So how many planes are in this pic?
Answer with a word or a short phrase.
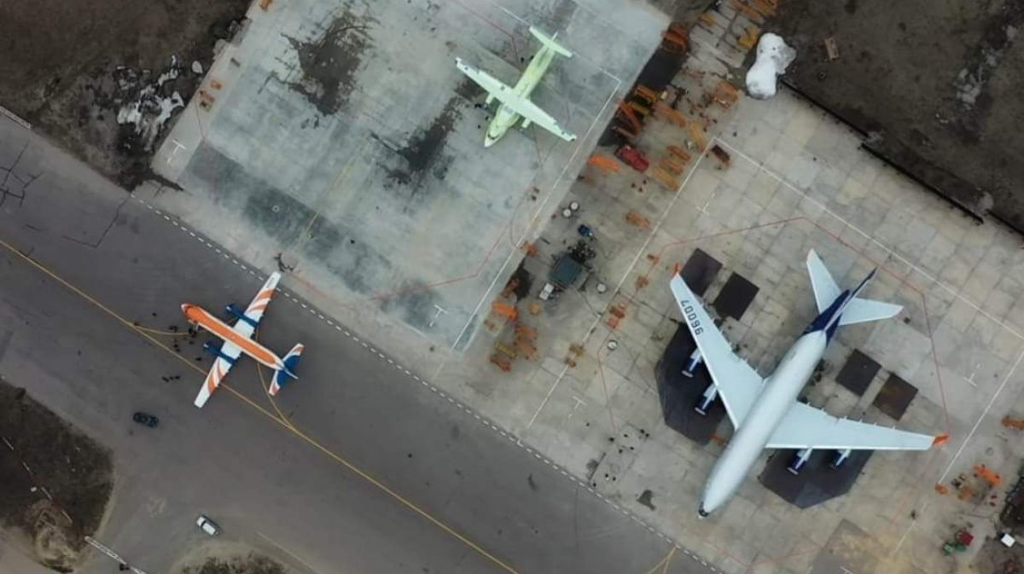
3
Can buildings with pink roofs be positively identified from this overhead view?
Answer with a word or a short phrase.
No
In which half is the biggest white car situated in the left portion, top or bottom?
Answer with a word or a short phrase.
bottom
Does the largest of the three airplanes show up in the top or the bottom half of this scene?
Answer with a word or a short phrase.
bottom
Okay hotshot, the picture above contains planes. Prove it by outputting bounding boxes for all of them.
[182,273,304,408]
[673,253,950,516]
[453,24,577,147]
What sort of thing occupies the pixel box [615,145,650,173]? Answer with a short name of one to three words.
truck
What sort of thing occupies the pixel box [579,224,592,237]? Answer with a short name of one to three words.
vehicle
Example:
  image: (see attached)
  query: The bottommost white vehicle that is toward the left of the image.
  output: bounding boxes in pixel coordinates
[194,517,220,537]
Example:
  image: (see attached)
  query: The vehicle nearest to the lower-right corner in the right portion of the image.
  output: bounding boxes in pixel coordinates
[1001,533,1020,550]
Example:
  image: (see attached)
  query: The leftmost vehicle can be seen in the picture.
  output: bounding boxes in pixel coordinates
[132,411,158,428]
